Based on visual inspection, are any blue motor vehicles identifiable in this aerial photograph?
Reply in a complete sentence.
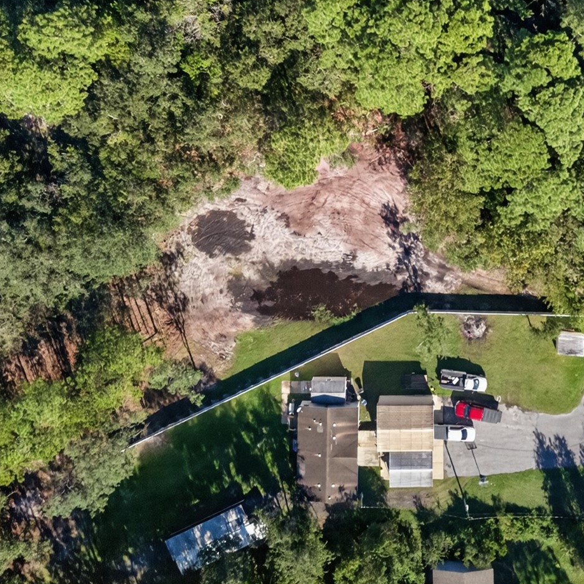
No, the scene contains no blue motor vehicle.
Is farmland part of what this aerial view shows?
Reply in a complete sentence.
No, there is no farmland in the image.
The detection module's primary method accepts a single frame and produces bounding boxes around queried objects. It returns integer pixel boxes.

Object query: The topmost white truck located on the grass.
[438,372,488,396]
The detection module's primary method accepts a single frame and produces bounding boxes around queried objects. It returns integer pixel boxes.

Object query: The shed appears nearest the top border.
[556,330,584,355]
